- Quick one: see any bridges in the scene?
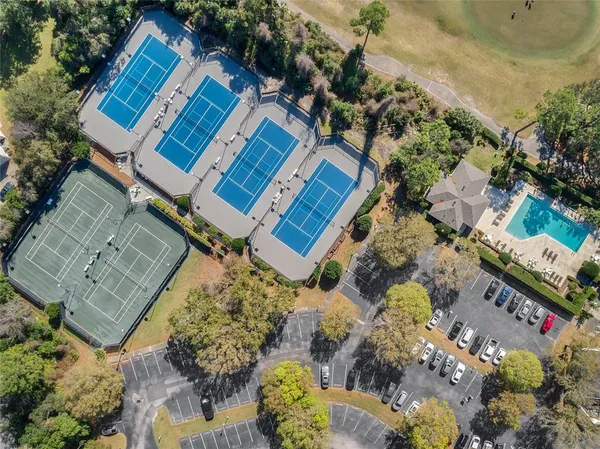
No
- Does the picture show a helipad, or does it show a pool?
pool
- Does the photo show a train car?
No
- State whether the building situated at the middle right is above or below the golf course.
below it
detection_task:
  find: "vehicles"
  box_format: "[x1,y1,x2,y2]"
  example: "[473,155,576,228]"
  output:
[321,366,329,385]
[346,369,355,388]
[420,343,434,362]
[496,287,511,305]
[393,391,407,410]
[415,336,424,347]
[404,399,418,417]
[484,280,499,298]
[382,383,396,403]
[482,437,494,449]
[427,309,442,328]
[468,433,481,449]
[540,314,555,332]
[480,338,499,361]
[441,355,455,374]
[517,300,533,318]
[458,328,474,346]
[469,335,485,353]
[506,293,521,312]
[490,348,506,366]
[448,321,463,339]
[430,349,444,368]
[529,305,546,324]
[0,181,12,199]
[451,362,465,381]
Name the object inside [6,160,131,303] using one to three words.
tennis court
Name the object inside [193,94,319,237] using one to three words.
tennis court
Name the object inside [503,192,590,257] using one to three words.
swimming pool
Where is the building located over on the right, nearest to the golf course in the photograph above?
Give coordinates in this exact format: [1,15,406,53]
[422,161,490,233]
